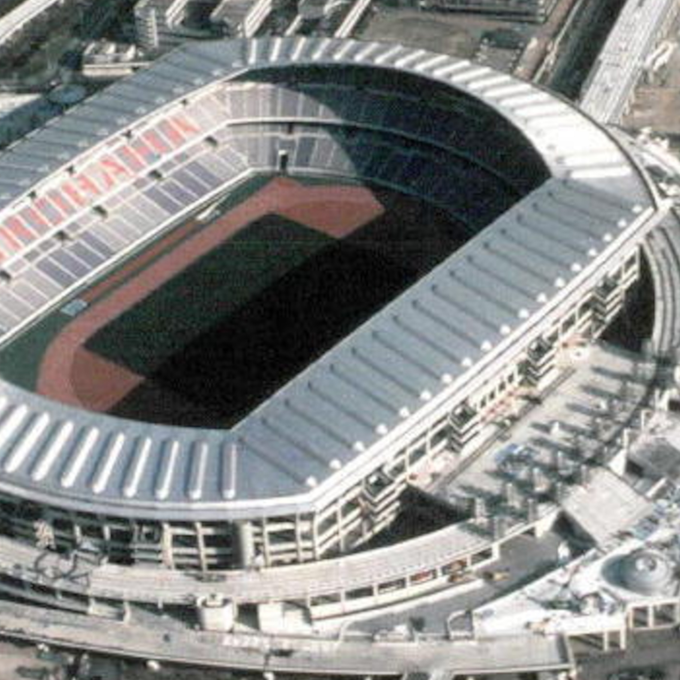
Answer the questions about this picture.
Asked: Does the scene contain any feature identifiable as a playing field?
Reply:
Yes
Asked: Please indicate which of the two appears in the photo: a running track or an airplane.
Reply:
running track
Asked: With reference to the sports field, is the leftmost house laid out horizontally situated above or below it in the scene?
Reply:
above it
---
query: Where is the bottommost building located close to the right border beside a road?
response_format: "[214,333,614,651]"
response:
[561,464,653,554]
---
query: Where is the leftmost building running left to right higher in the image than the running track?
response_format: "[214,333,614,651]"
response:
[82,41,156,74]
